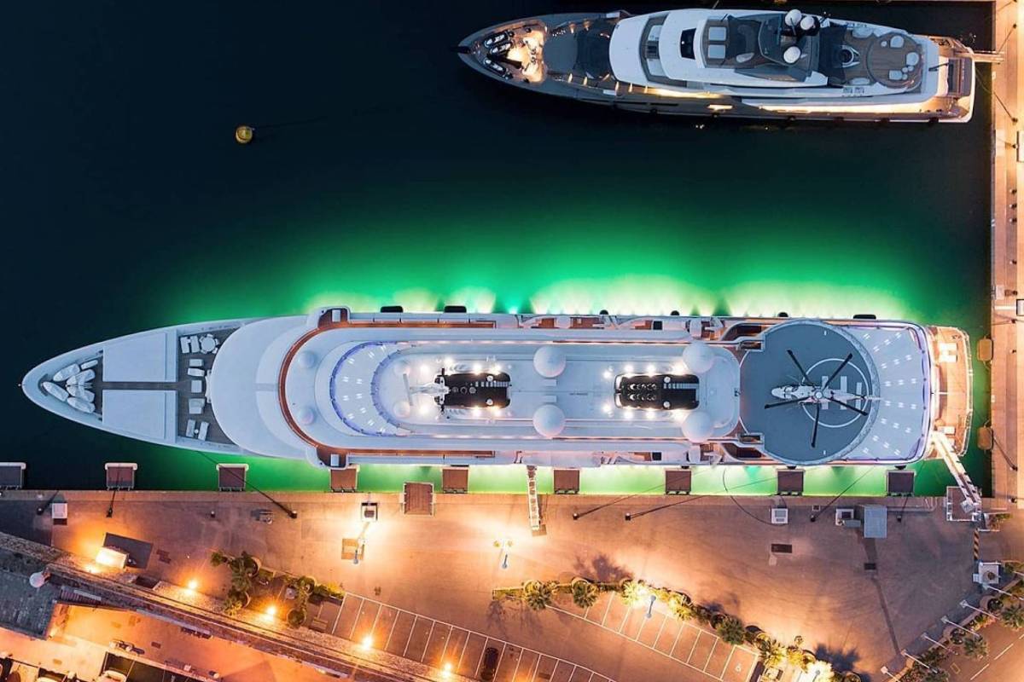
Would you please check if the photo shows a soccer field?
No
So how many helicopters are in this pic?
one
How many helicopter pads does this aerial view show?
one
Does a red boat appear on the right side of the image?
No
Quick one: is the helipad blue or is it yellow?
blue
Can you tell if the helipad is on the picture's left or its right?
right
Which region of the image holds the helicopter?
right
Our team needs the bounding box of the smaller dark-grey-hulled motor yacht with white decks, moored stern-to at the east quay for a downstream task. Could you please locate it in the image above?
[451,4,975,126]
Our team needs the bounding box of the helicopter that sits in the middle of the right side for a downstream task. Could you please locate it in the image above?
[765,351,896,447]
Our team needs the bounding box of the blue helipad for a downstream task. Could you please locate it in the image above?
[734,318,884,466]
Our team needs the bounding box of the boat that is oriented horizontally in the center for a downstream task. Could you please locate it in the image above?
[17,306,972,478]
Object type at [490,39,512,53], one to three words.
boat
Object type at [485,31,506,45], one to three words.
boat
